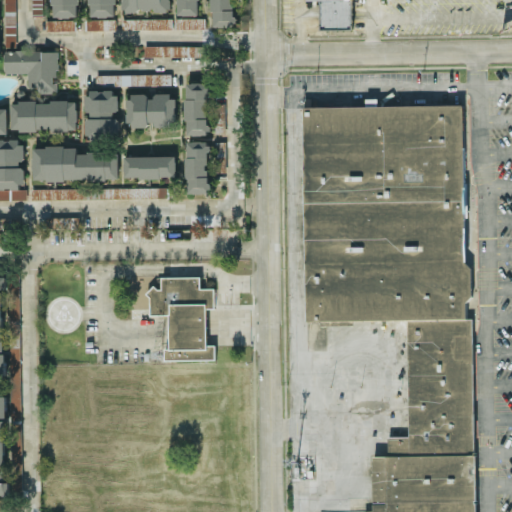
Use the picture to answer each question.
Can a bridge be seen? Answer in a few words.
No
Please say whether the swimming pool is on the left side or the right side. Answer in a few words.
left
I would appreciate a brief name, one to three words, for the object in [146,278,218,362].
building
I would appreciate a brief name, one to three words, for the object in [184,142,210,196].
house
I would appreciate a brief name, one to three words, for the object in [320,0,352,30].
building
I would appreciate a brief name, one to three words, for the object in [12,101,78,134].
house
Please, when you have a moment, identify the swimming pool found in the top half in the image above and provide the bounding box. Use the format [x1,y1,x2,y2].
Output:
[0,76,24,108]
